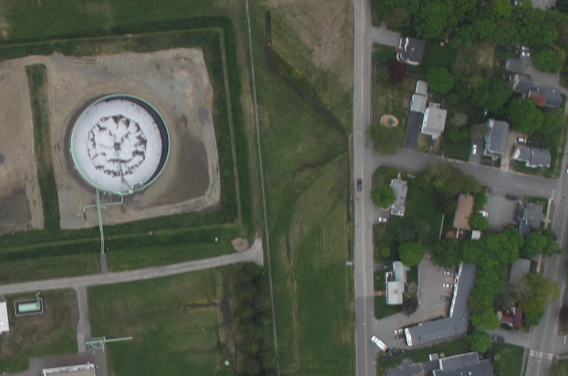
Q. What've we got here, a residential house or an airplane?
residential house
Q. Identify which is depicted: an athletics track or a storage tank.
storage tank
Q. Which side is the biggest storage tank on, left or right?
left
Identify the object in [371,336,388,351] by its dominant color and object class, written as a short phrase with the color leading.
white vehicle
